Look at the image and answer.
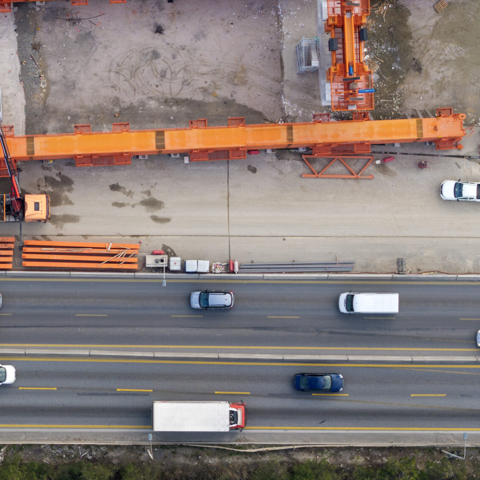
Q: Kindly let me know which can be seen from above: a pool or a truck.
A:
truck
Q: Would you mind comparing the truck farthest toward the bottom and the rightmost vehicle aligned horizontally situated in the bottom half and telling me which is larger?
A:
the truck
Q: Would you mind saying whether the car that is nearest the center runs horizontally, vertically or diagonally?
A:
horizontally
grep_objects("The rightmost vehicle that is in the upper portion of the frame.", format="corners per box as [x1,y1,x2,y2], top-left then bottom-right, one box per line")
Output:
[439,179,480,202]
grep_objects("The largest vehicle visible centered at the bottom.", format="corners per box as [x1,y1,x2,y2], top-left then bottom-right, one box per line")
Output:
[152,402,246,435]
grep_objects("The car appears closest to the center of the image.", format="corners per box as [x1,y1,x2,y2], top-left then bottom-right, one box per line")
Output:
[191,288,235,312]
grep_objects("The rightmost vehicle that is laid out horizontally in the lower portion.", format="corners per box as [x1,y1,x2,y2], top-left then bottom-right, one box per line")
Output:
[337,291,400,316]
